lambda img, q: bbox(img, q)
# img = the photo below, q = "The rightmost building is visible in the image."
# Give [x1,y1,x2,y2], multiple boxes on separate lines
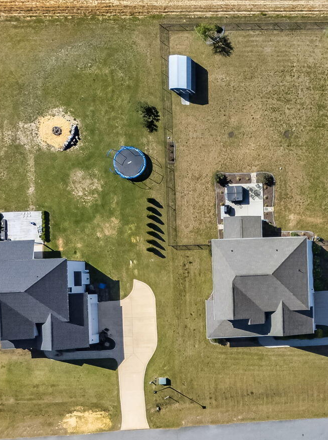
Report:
[206,215,317,339]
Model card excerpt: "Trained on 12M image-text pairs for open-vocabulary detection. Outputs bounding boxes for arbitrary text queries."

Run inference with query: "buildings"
[206,215,317,339]
[170,54,197,105]
[0,240,98,352]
